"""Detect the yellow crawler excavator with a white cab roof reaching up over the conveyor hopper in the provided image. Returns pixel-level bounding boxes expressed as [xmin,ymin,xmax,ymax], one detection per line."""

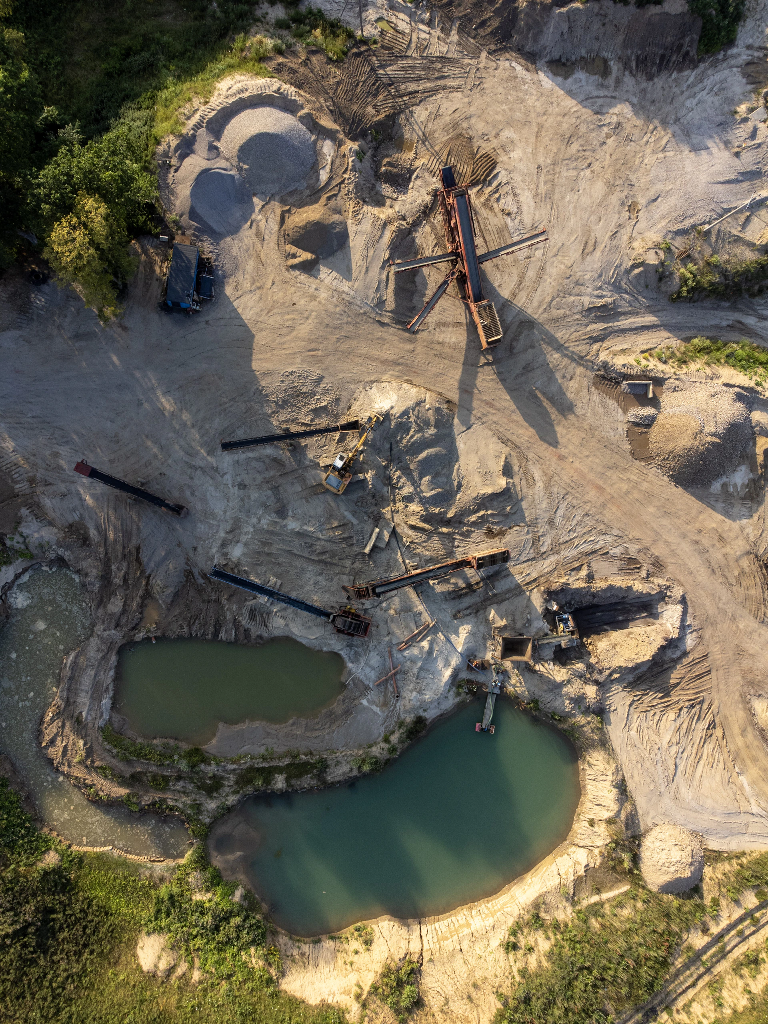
[321,413,378,491]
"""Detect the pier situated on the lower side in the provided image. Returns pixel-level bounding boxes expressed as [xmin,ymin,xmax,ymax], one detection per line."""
[474,692,497,734]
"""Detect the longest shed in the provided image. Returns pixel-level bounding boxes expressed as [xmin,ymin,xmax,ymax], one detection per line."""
[166,242,203,311]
